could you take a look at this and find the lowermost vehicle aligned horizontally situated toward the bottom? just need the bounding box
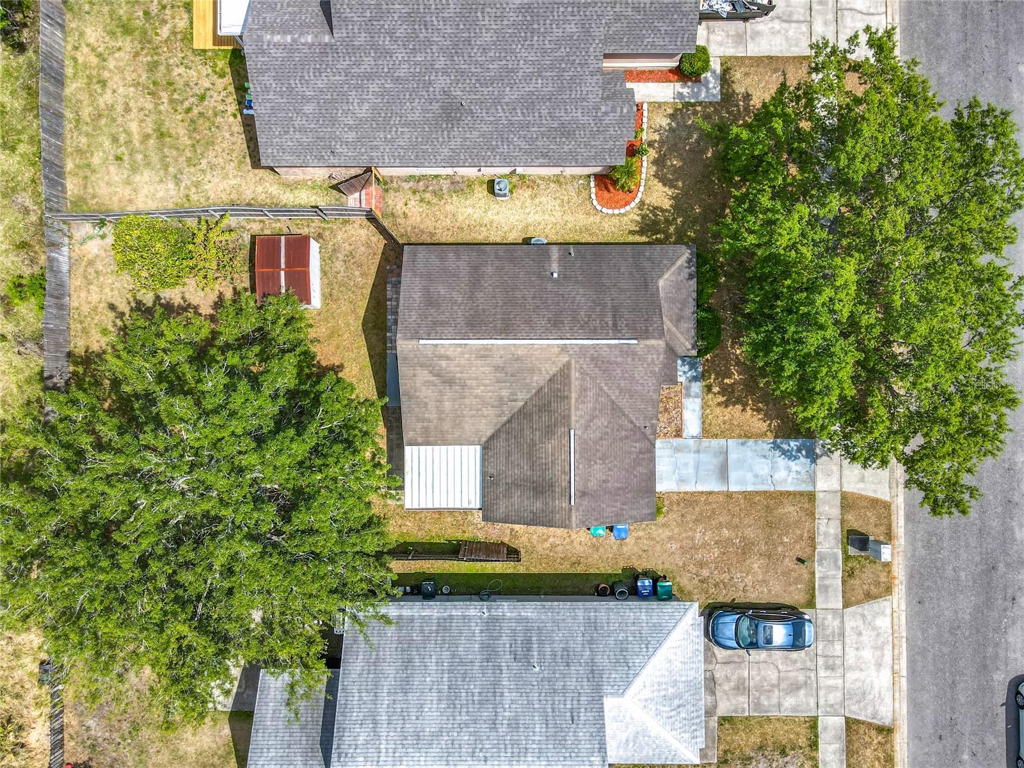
[705,607,818,660]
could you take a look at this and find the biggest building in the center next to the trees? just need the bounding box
[397,243,698,529]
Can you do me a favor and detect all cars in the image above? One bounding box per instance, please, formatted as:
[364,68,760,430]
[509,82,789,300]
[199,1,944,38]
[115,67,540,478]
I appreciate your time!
[1015,682,1024,768]
[705,607,818,660]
